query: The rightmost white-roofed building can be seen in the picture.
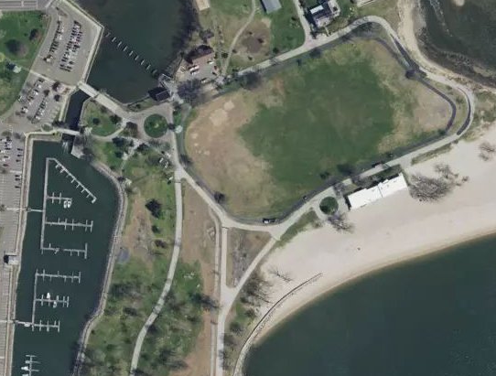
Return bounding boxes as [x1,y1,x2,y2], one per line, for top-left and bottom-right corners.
[379,173,408,197]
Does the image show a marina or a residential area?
marina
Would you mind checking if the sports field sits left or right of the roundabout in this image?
to the right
